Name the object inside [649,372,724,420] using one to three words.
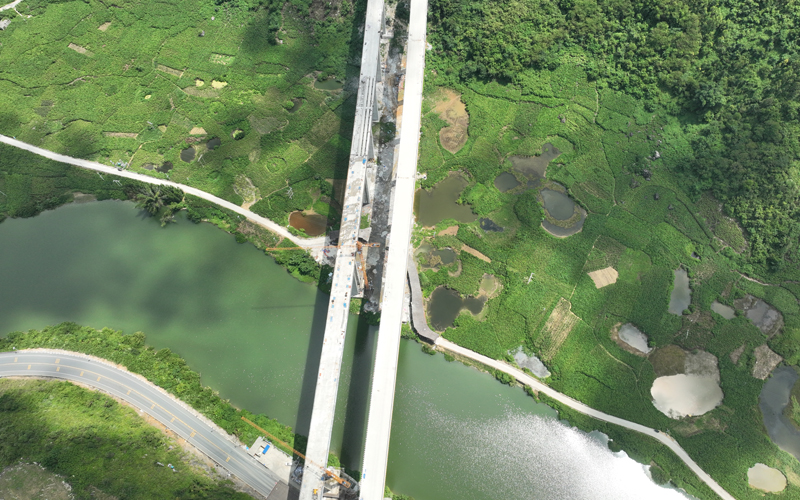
pond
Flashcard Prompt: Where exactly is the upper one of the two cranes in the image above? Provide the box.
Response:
[267,241,380,292]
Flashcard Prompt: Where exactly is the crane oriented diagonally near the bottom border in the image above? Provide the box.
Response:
[241,416,351,490]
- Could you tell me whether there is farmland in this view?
Yes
